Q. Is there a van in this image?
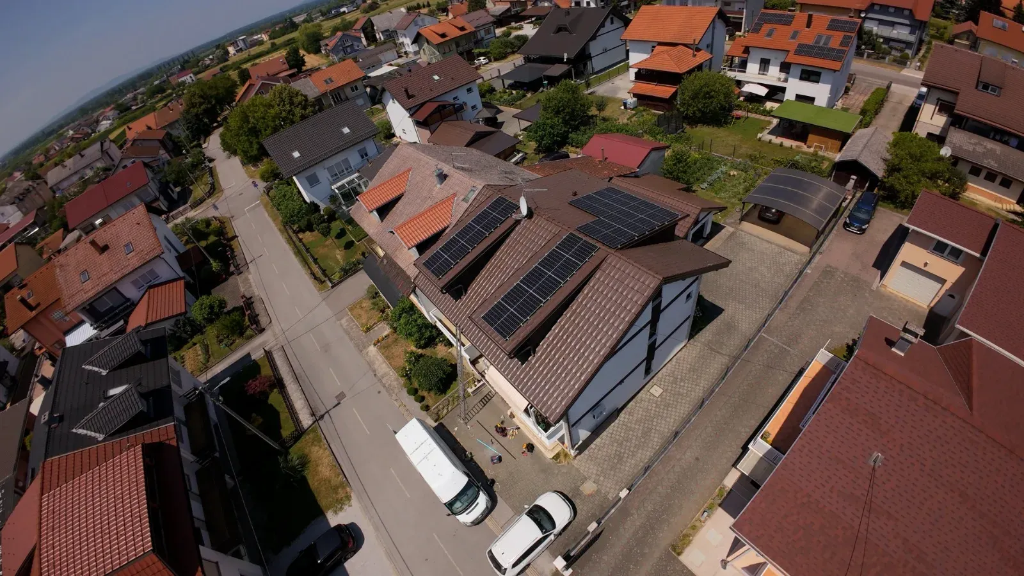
Yes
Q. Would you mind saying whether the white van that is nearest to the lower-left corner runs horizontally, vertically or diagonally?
diagonally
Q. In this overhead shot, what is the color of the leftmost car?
black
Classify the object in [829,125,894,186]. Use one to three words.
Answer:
building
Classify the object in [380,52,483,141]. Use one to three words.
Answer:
house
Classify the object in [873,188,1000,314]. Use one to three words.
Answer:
house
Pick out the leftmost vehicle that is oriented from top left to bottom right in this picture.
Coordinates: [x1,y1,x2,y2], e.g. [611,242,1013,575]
[393,415,492,529]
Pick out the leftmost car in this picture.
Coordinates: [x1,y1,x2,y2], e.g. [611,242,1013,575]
[281,509,363,576]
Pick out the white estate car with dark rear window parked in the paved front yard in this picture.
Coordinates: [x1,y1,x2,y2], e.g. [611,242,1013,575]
[489,490,579,576]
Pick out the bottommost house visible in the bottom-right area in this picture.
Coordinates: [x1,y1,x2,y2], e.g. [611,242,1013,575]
[729,316,1024,576]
